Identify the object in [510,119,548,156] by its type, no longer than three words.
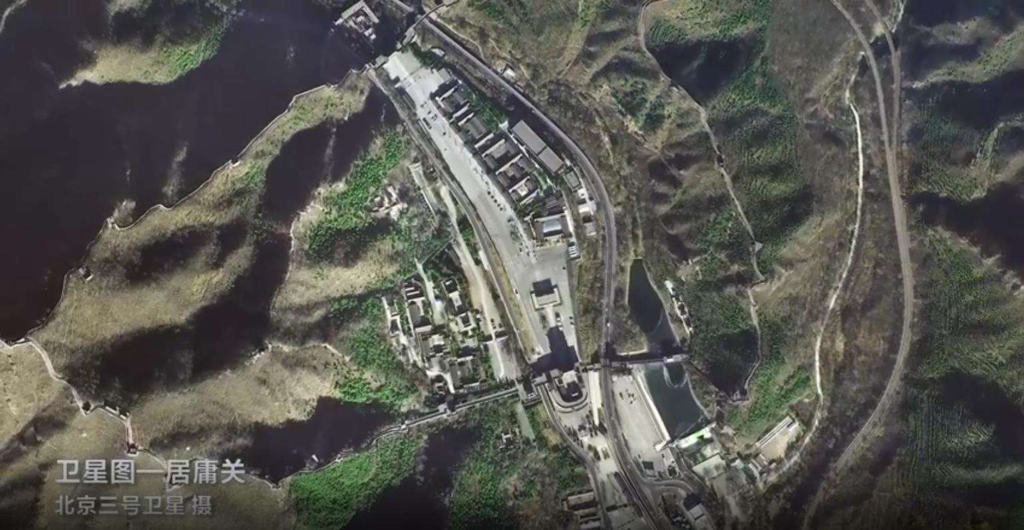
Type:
building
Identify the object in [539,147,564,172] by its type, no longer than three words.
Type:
building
